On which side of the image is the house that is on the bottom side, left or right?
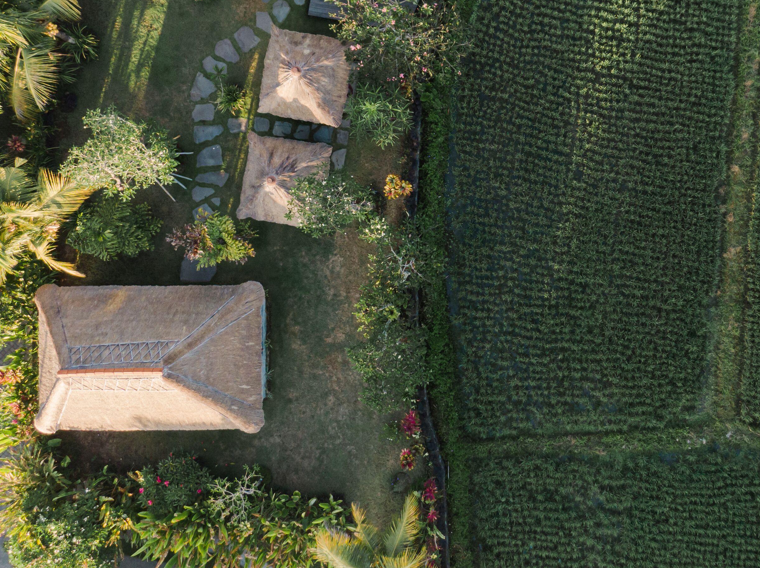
left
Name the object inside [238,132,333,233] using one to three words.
building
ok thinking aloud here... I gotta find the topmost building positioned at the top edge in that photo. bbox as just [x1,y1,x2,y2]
[260,25,349,126]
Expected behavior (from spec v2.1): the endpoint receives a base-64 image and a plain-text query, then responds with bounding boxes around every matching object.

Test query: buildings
[238,132,333,233]
[260,25,349,126]
[33,281,271,435]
